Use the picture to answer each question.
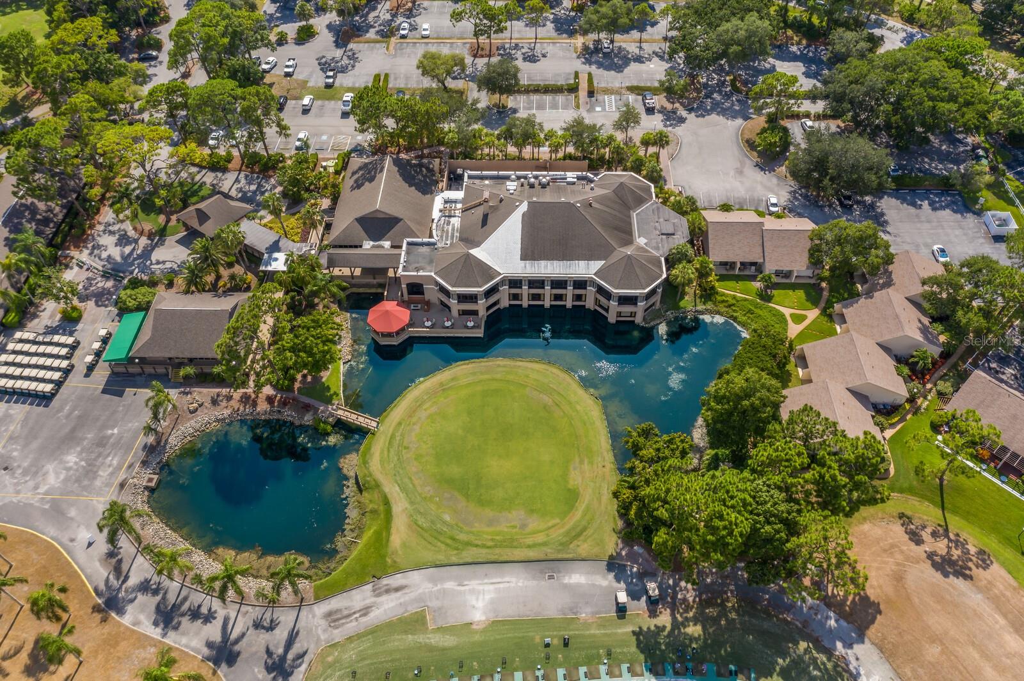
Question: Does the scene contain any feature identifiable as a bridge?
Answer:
Yes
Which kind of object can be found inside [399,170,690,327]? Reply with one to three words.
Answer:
building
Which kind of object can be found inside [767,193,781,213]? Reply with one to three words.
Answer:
car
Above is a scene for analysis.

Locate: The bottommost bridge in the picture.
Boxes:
[329,405,380,437]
